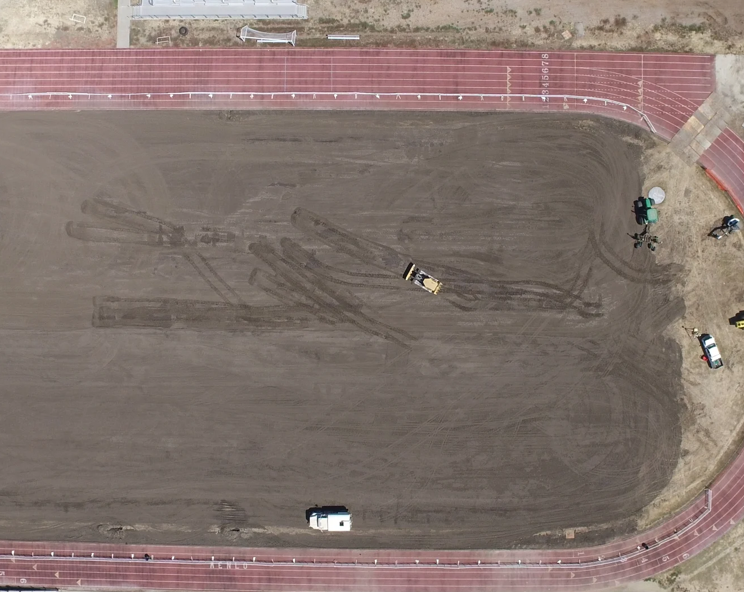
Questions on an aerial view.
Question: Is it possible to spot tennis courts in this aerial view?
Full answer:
No, there appears to be no tennis court in this shot.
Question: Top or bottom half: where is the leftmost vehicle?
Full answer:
The leftmost vehicle sits in the bottom half of the picture.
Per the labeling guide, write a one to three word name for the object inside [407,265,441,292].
work vehicle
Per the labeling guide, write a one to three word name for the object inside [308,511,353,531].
vehicle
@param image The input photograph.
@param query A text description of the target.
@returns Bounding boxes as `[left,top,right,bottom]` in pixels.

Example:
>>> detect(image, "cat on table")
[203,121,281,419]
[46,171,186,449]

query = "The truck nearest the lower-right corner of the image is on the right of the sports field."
[700,334,725,372]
